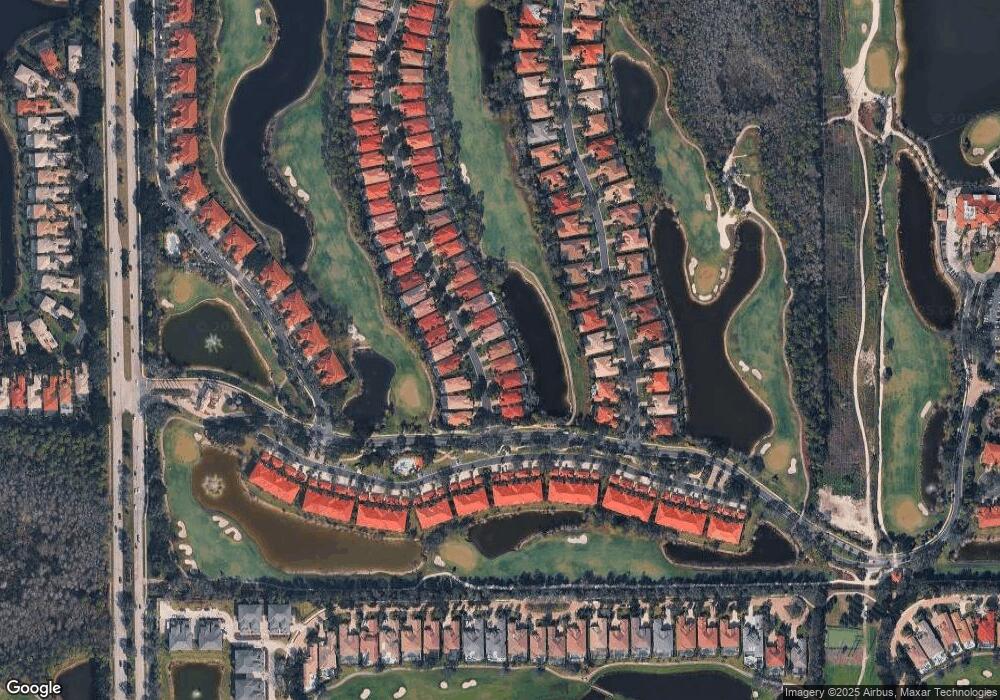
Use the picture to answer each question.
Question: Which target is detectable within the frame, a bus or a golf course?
golf course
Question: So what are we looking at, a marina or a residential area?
residential area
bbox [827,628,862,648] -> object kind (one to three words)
sports court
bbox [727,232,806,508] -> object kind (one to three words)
golf course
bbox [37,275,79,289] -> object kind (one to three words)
house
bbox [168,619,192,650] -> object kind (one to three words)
building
